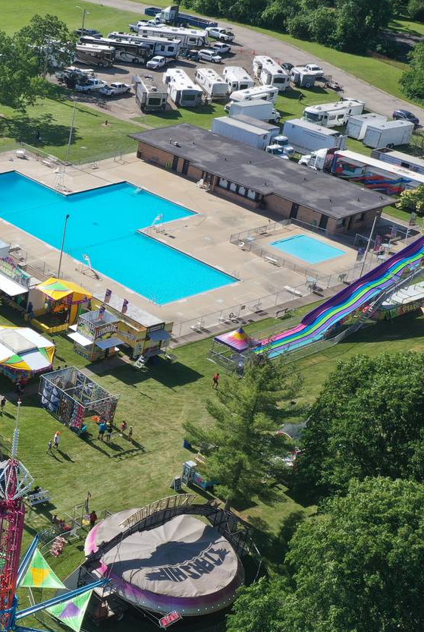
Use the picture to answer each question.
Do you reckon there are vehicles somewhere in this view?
Yes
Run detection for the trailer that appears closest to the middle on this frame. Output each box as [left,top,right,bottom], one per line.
[75,281,172,368]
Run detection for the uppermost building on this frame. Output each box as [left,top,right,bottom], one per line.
[128,123,400,238]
